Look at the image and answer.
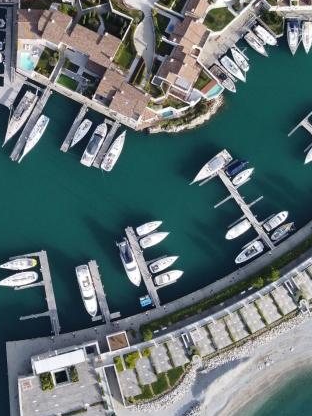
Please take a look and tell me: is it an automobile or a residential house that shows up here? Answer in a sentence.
There is a residential house in the scene.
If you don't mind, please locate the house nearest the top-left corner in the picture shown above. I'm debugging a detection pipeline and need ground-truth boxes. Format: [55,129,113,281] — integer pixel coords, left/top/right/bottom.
[16,8,46,43]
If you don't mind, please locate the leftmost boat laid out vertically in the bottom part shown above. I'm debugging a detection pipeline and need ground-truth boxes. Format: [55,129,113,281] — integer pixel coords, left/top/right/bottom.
[76,262,97,318]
